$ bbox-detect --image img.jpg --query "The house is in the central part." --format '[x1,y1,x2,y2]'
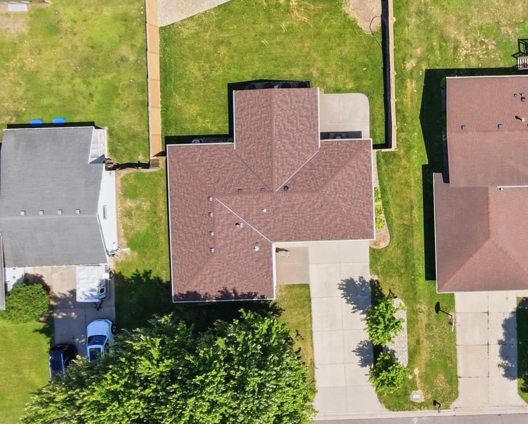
[166,87,376,302]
